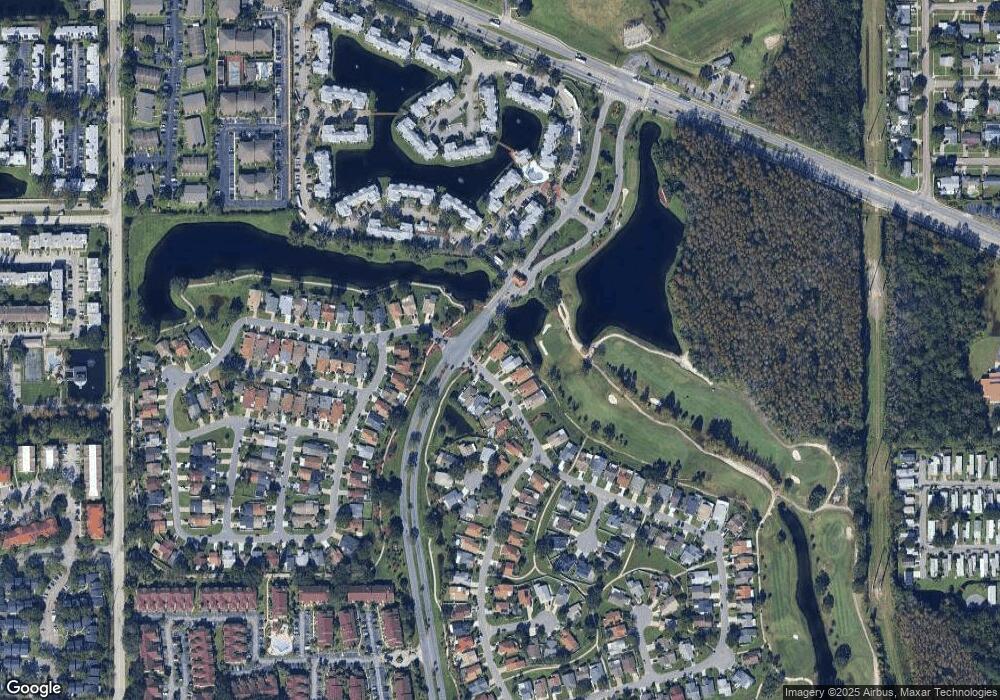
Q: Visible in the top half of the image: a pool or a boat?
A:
pool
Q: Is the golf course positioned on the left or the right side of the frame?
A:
right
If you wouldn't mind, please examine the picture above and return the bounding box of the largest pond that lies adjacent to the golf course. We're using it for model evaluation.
[334,37,541,205]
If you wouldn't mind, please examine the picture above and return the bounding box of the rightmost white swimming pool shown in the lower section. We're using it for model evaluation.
[269,635,294,654]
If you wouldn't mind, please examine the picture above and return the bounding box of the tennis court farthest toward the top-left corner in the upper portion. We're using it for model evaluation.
[226,59,243,87]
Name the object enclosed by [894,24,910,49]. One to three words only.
house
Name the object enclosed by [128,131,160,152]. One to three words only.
building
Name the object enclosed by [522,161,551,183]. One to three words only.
swimming pool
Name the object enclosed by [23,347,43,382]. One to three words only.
tennis court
